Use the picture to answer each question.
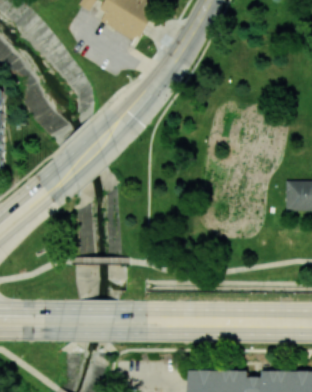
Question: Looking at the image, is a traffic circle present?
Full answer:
No, this view has no traffic circle in it.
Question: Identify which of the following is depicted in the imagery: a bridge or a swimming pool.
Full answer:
The image shows a bridge.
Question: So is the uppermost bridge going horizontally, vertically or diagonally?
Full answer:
The uppermost bridge is oriented diagonally.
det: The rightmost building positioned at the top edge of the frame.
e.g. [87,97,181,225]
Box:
[102,0,154,40]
